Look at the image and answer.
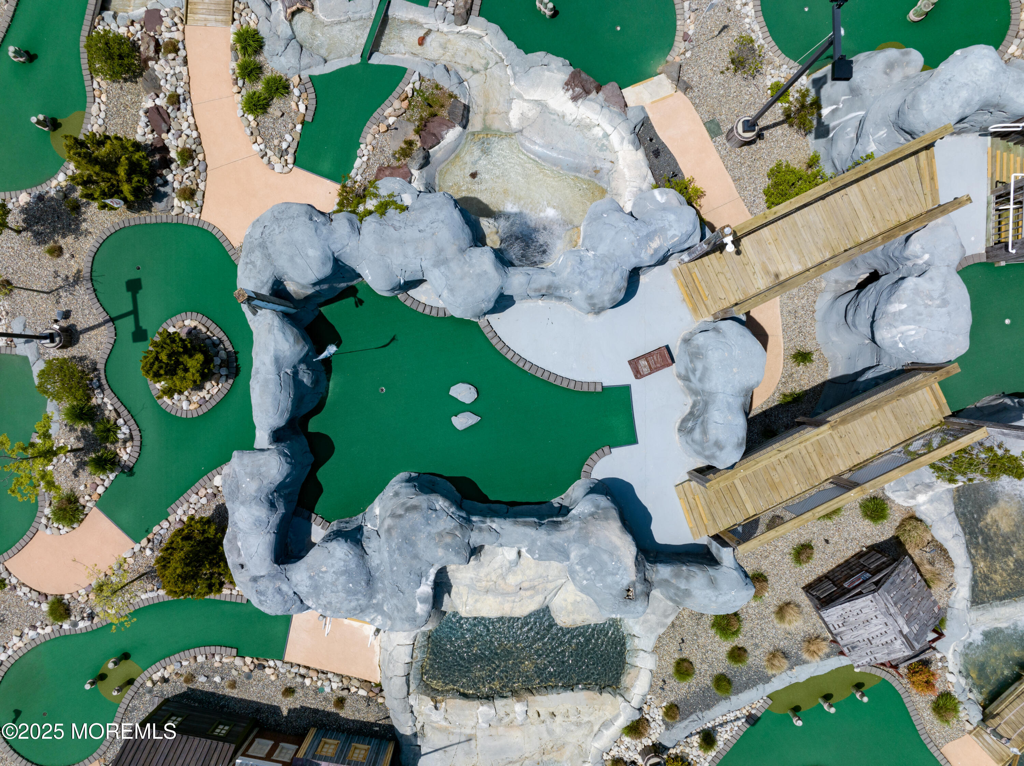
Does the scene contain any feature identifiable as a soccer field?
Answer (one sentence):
No, I can see no soccer field in this picture.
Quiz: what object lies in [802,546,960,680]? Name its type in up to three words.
shed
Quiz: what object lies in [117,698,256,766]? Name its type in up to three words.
building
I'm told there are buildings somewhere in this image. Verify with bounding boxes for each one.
[288,725,394,766]
[802,546,960,680]
[117,698,256,766]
